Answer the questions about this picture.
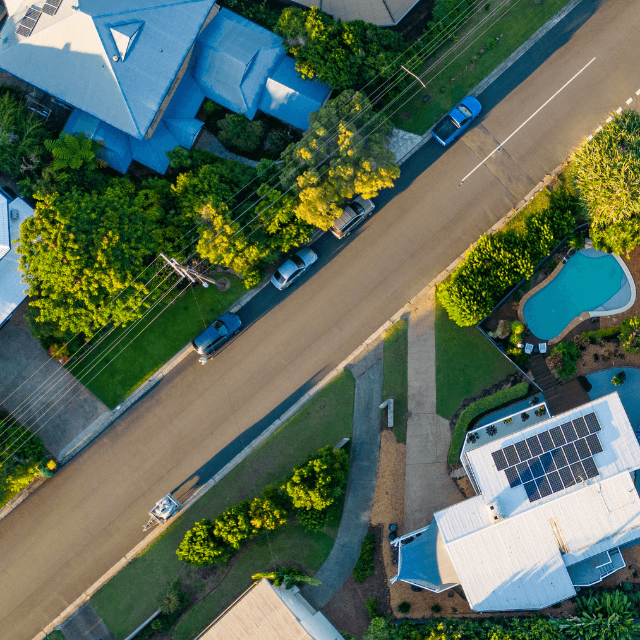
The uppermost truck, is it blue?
Yes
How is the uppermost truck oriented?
on a diagonal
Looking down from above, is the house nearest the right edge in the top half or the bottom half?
bottom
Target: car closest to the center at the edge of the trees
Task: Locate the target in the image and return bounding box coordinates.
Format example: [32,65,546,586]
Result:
[264,242,325,296]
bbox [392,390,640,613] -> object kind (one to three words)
house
